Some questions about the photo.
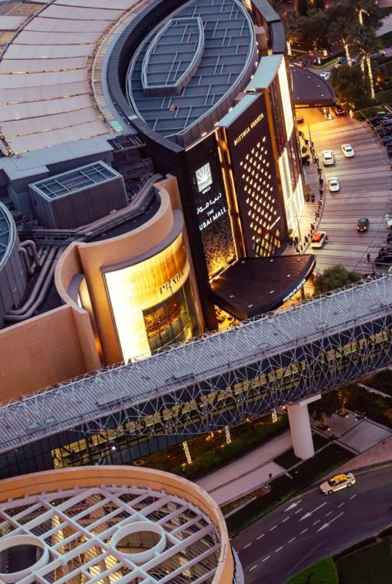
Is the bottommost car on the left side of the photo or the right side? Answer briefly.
right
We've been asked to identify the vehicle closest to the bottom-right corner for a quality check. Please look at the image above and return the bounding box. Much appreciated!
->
[319,472,357,495]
